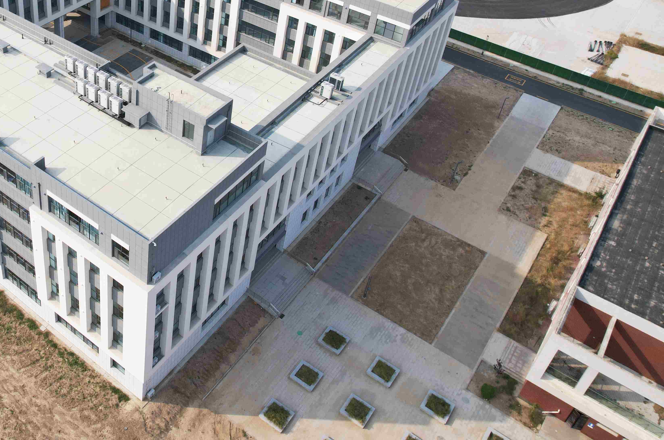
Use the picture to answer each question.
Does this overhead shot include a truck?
No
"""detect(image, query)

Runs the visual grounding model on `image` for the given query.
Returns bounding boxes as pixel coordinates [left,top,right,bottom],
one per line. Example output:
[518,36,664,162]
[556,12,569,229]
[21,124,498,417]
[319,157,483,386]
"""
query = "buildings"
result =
[522,102,664,440]
[0,0,460,401]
